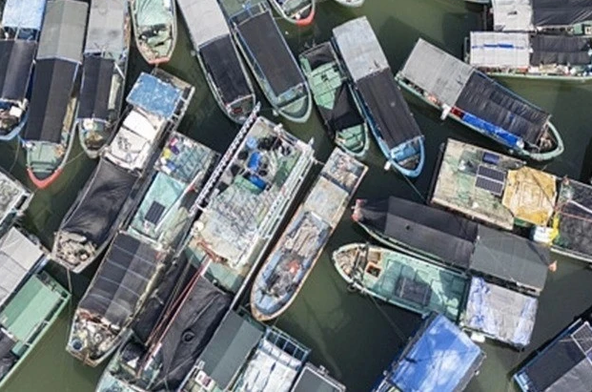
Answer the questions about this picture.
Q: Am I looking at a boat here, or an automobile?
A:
boat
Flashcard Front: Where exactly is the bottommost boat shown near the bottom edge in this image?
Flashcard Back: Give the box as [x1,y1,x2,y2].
[292,365,350,392]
